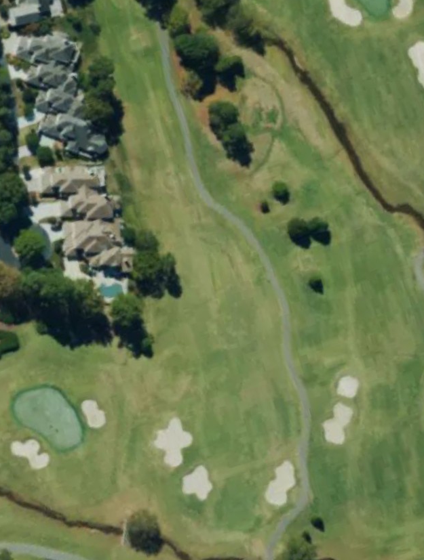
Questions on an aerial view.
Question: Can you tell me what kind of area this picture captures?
golf course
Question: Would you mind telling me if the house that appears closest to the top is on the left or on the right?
left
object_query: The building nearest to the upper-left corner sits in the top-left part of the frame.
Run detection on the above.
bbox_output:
[6,0,47,32]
